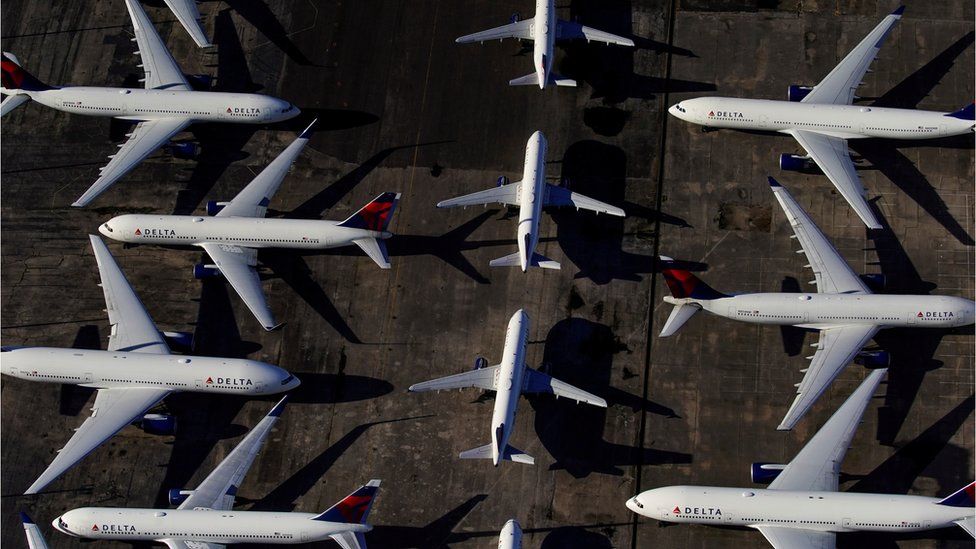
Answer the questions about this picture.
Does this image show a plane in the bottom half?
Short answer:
Yes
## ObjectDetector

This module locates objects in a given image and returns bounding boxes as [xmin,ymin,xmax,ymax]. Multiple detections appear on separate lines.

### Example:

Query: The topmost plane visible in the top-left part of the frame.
[165,0,214,51]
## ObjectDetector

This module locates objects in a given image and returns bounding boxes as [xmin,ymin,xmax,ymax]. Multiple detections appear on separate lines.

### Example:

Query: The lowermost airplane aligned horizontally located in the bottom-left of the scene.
[52,395,381,549]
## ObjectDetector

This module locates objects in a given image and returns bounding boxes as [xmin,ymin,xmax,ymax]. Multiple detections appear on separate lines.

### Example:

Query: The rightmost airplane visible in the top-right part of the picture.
[668,7,976,230]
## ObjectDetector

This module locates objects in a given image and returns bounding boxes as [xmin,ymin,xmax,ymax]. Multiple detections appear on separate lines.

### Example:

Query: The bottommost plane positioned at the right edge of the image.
[627,371,976,549]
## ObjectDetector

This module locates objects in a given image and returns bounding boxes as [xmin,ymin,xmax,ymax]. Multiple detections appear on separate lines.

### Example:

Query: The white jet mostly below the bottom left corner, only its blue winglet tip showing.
[22,513,50,549]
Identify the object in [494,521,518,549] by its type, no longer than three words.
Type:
airplane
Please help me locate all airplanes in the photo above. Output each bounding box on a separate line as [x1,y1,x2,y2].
[660,177,976,429]
[627,371,976,549]
[165,0,214,51]
[0,235,301,493]
[0,0,301,206]
[52,395,381,549]
[494,521,518,549]
[22,513,50,549]
[408,312,607,465]
[436,134,625,272]
[668,7,976,230]
[98,121,399,326]
[455,0,635,92]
